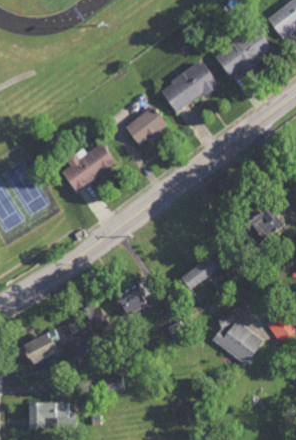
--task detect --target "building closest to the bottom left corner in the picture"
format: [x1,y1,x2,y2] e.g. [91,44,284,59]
[28,402,74,431]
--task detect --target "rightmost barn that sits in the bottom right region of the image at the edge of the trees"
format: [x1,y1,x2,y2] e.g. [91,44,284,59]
[268,322,296,344]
